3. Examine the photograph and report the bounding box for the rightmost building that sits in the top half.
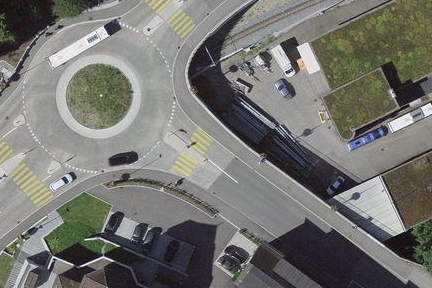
[394,74,432,107]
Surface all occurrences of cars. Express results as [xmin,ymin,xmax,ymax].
[164,238,182,264]
[104,210,124,236]
[224,245,250,263]
[142,225,163,252]
[110,152,136,164]
[274,78,294,102]
[216,254,242,272]
[325,174,346,196]
[130,221,148,245]
[48,172,72,192]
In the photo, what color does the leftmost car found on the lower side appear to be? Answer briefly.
white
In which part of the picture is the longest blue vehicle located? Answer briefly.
right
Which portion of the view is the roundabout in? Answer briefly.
left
